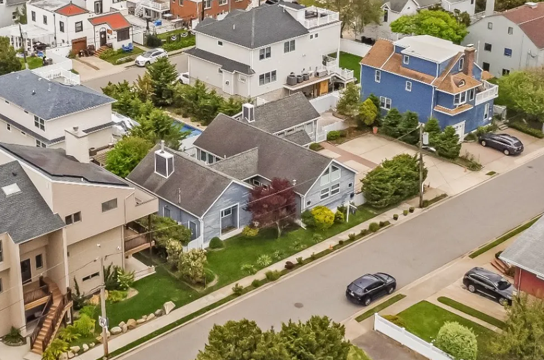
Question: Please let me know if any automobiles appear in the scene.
Yes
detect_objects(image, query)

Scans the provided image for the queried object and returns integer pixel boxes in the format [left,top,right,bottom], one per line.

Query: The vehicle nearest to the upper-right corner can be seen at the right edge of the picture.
[477,132,525,155]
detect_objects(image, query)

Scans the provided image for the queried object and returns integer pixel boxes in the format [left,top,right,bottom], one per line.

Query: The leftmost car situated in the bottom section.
[339,270,395,306]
